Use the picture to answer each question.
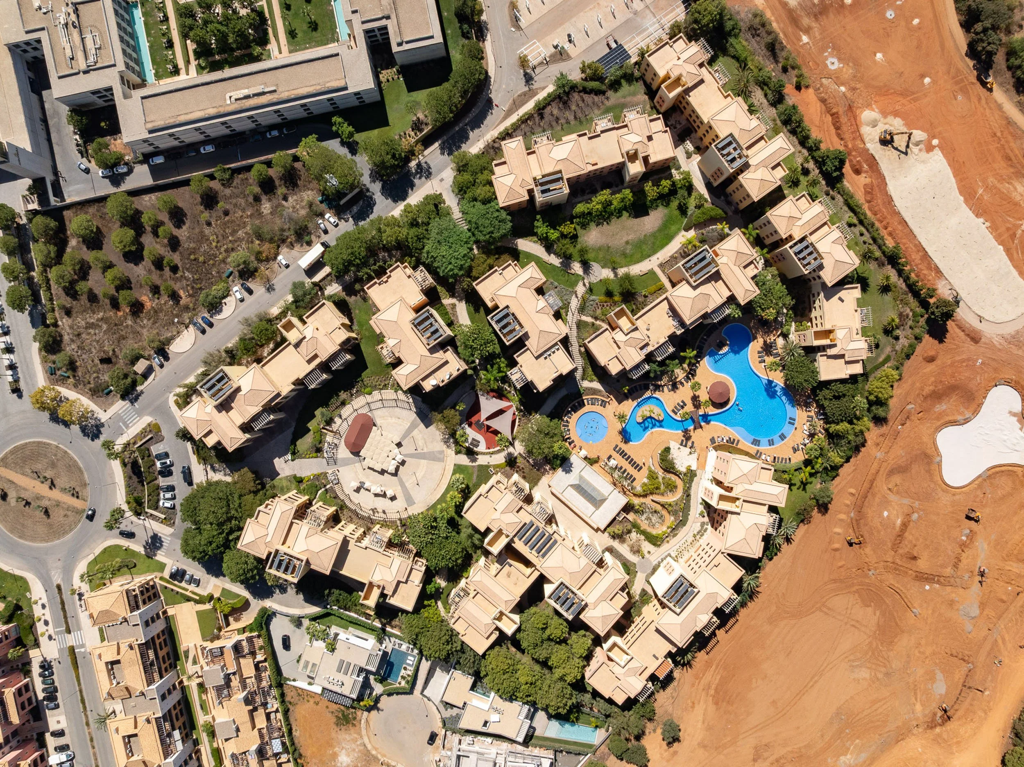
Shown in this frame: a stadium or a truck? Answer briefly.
truck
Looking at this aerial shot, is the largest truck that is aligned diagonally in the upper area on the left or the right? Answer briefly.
left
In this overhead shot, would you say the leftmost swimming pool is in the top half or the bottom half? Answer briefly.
top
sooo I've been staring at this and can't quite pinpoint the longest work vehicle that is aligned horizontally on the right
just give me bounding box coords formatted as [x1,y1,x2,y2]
[879,129,909,142]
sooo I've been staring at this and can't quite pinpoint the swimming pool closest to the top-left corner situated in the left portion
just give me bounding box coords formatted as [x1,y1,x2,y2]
[127,0,156,86]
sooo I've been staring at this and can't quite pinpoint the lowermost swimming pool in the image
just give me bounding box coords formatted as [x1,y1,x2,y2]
[541,717,600,745]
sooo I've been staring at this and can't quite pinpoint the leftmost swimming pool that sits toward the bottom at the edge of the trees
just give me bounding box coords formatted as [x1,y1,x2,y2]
[381,647,417,684]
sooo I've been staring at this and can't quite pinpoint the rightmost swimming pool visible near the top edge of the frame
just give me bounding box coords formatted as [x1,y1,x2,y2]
[331,0,351,42]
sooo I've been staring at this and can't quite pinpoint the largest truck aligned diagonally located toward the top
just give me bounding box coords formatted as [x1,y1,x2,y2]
[295,241,329,273]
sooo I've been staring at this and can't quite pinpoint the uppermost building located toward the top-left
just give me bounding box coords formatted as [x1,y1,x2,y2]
[0,0,446,205]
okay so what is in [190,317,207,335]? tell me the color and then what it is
gray car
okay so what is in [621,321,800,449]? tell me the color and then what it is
blue swimming pool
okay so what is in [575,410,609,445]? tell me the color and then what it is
blue swimming pool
